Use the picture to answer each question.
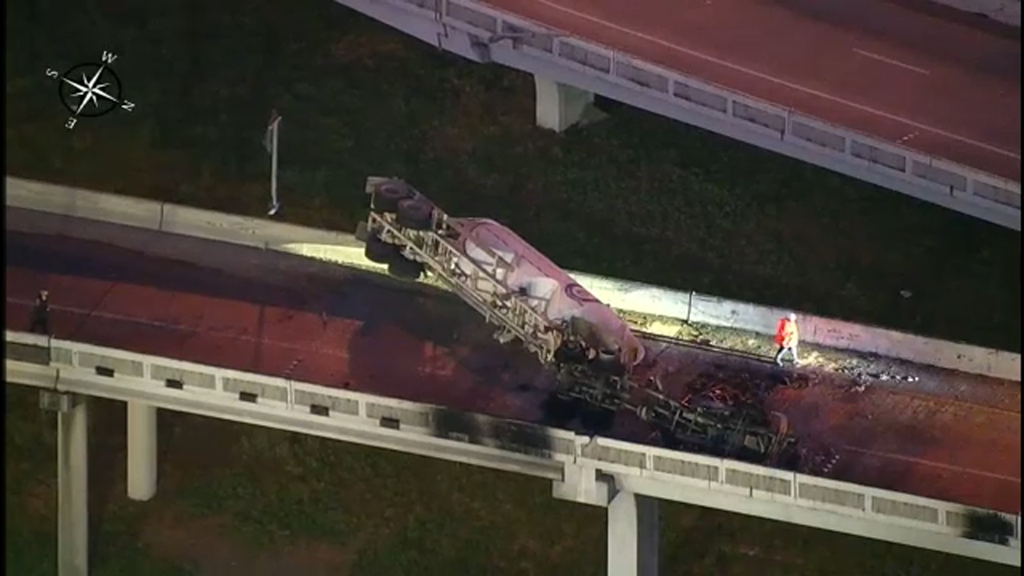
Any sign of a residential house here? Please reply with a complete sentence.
No, there appears to be no residential house in this shot.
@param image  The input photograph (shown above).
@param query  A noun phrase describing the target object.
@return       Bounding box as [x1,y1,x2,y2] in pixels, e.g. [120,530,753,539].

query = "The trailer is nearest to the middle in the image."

[357,169,643,387]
